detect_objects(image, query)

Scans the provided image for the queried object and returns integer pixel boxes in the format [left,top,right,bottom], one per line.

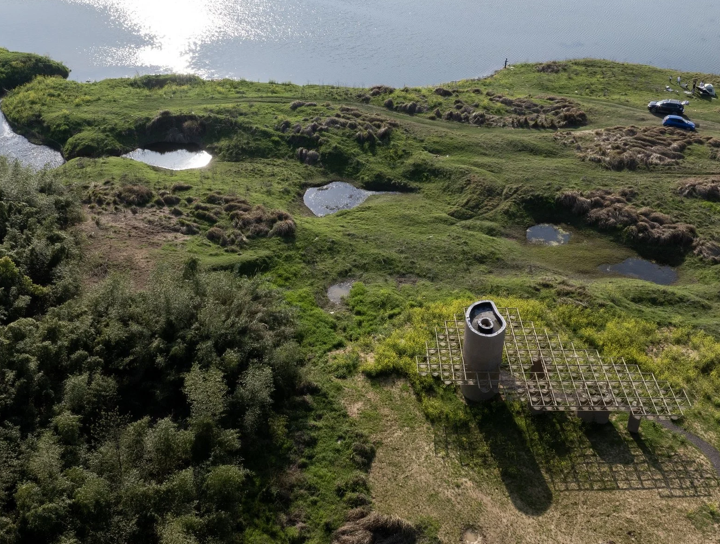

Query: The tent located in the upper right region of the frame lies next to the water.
[689,82,718,97]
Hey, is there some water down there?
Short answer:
Yes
